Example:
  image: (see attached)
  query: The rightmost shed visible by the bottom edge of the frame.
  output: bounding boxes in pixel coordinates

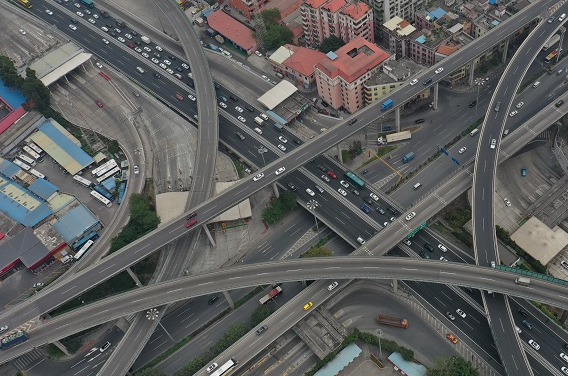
[387,351,425,376]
